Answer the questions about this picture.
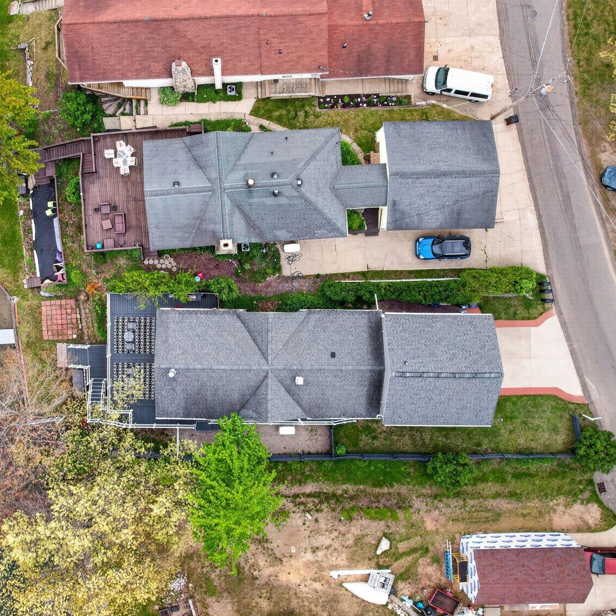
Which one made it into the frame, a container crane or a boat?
boat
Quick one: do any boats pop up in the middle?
No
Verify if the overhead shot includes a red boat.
No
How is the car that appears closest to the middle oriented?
from left to right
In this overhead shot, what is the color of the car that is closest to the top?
white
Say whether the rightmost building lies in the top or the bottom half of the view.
bottom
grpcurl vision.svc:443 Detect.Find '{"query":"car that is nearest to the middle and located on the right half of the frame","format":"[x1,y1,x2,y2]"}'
[414,233,471,262]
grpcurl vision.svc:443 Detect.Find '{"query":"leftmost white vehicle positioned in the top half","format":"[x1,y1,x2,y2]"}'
[422,63,497,102]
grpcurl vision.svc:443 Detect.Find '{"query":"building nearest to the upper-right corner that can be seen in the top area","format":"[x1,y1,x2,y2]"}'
[376,118,501,232]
